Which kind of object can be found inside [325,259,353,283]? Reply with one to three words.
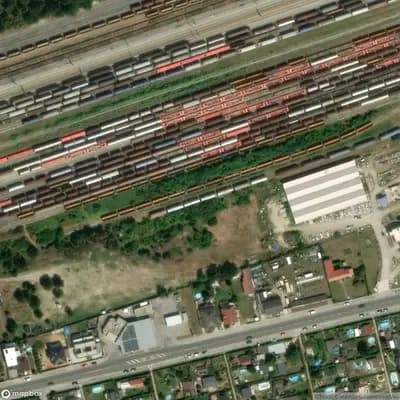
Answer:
house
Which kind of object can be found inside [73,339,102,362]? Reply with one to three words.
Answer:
building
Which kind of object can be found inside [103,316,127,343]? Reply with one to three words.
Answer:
building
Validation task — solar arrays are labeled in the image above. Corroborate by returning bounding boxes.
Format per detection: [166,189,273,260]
[123,326,136,341]
[123,341,138,352]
